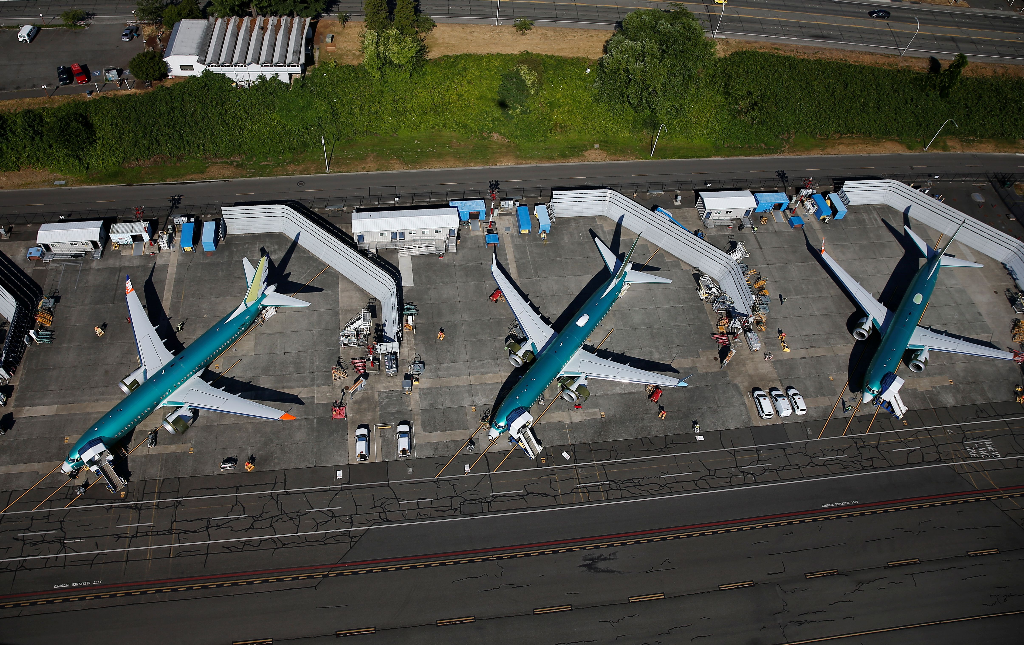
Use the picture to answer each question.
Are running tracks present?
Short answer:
No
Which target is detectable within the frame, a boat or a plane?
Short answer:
plane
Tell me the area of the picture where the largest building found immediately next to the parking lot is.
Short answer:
top left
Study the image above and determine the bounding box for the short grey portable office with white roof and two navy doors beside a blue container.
[697,190,757,218]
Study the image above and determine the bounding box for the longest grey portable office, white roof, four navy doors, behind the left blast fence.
[351,208,459,241]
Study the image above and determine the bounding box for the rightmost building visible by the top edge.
[164,15,311,87]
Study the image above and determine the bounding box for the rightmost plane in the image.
[815,219,1024,403]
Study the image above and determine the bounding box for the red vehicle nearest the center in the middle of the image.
[486,285,503,302]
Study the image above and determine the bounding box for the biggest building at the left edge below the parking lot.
[36,220,108,252]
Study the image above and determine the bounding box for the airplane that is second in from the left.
[490,231,693,439]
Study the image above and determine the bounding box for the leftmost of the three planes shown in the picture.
[60,253,311,474]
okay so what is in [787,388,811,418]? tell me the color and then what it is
white car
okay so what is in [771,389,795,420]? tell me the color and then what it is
white vehicle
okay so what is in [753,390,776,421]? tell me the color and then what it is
white vehicle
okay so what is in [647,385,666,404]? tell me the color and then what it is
red work vehicle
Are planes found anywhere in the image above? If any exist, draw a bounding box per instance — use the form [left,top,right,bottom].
[490,231,693,439]
[60,253,311,474]
[815,219,1024,403]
